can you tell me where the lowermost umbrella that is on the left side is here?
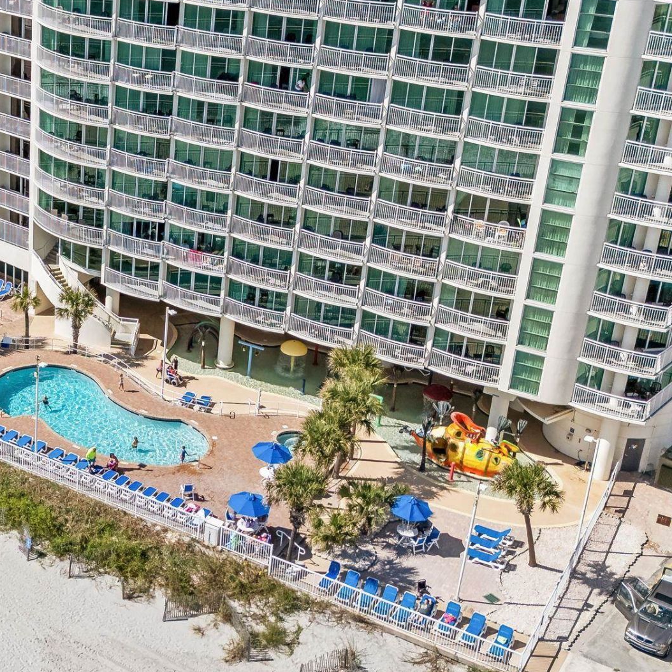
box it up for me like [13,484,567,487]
[226,493,275,525]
